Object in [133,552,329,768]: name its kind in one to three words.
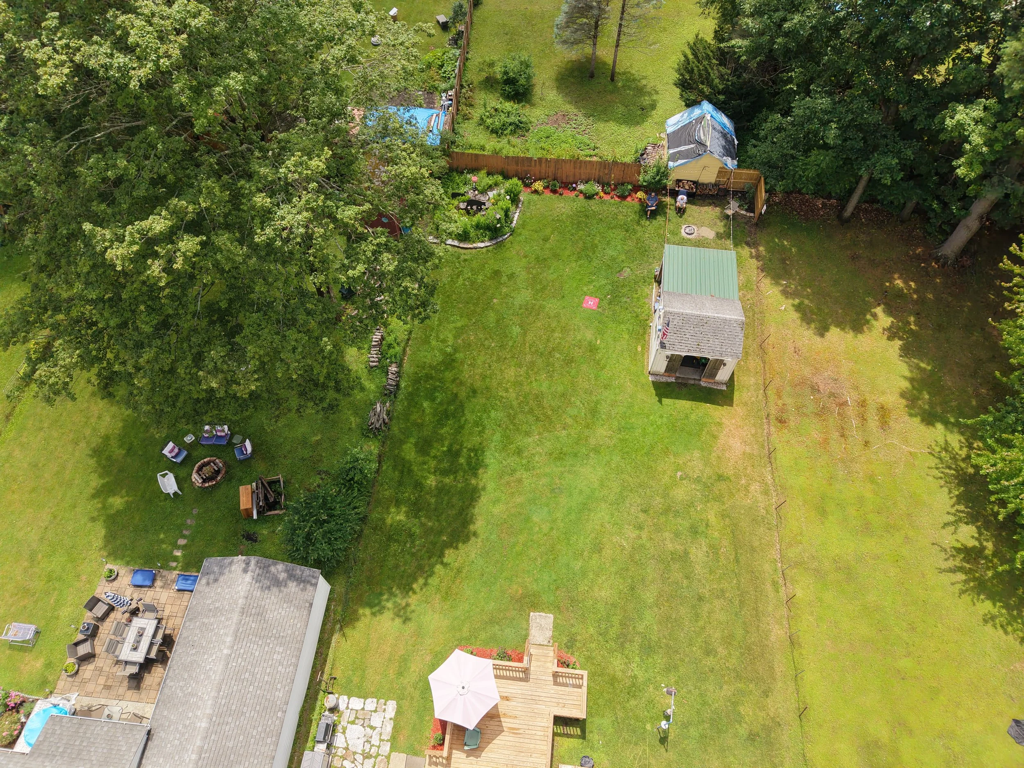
house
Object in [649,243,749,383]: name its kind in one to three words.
shed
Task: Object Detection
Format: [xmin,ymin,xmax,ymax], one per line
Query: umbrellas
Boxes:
[103,592,141,607]
[428,649,500,730]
